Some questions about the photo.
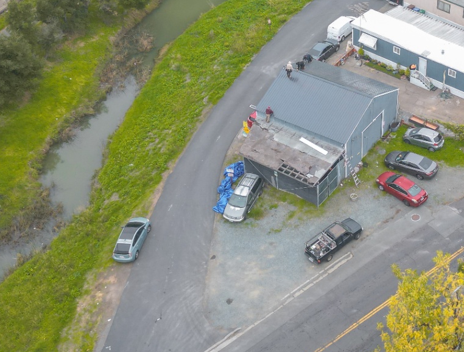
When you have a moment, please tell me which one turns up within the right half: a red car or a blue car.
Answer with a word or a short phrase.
red car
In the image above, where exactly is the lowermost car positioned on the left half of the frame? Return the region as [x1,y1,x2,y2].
[113,221,150,265]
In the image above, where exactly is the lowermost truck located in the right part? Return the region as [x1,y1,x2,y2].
[302,224,361,264]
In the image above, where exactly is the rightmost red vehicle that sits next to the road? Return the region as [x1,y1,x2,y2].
[375,175,429,206]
